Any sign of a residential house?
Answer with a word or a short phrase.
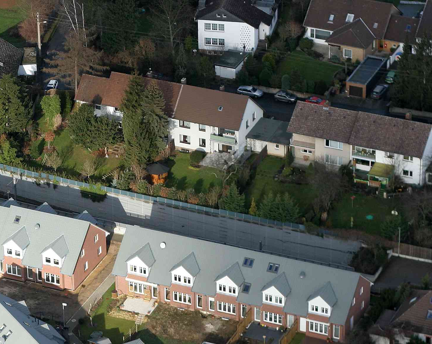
Yes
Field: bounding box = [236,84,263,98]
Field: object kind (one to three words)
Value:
car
